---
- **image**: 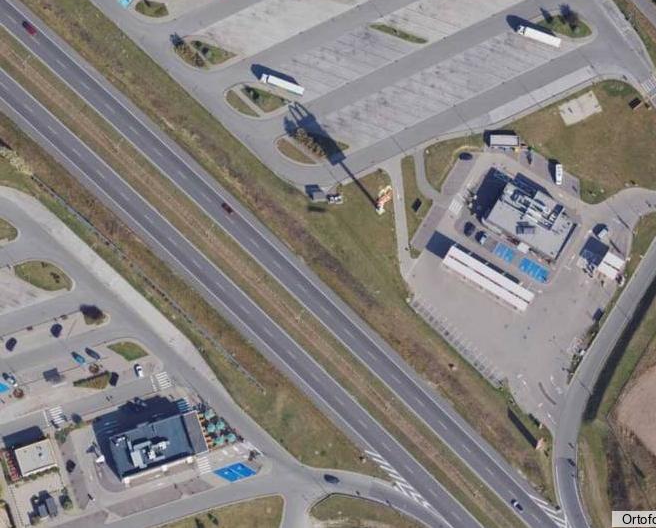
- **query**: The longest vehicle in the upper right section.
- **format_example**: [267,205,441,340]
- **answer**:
[518,29,562,48]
